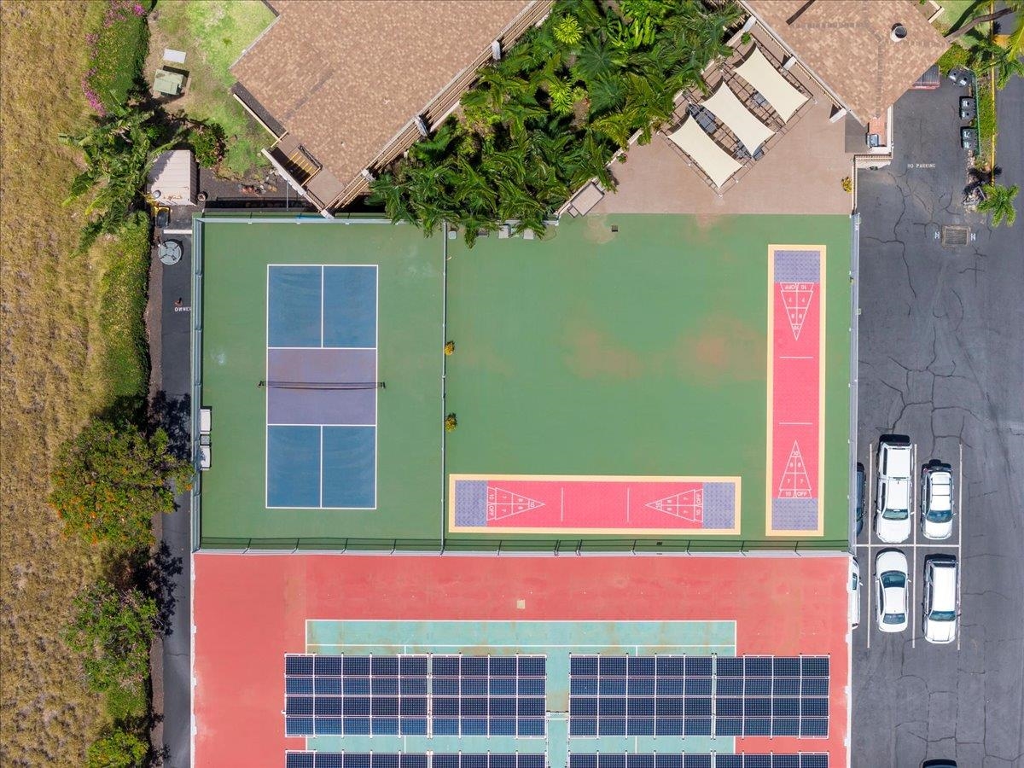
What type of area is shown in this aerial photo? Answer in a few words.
sports ground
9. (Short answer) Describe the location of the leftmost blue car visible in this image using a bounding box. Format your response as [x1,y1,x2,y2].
[857,464,870,538]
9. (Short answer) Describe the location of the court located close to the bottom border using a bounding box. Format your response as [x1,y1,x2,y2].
[193,556,851,768]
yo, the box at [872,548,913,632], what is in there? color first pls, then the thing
white car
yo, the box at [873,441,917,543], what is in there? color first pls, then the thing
white truck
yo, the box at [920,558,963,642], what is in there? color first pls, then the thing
white car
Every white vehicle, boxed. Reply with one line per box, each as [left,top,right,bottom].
[919,462,959,540]
[872,548,913,632]
[873,441,917,543]
[920,558,963,642]
[850,556,865,629]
